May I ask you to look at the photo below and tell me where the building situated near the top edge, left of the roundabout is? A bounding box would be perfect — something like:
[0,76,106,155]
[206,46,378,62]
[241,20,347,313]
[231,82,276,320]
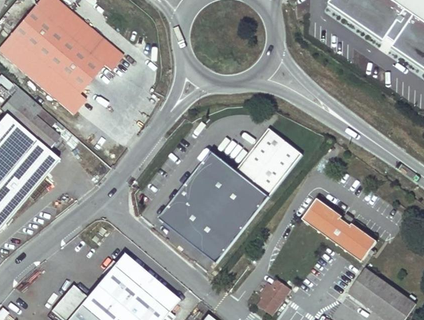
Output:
[0,0,125,116]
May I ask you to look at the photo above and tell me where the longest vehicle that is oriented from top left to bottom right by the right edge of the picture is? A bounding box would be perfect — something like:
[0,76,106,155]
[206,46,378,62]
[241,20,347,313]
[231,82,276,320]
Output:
[396,163,421,182]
